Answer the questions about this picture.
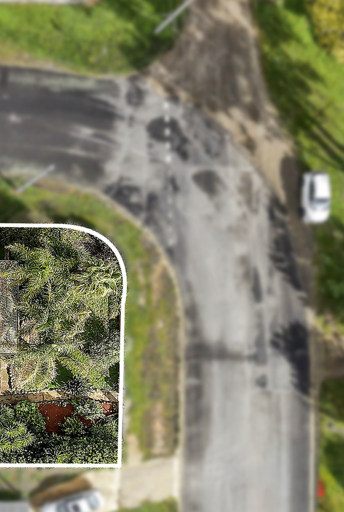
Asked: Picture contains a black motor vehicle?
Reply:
No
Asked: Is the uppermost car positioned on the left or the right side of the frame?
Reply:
right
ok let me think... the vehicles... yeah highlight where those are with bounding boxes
[297,169,331,225]
[39,487,105,512]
